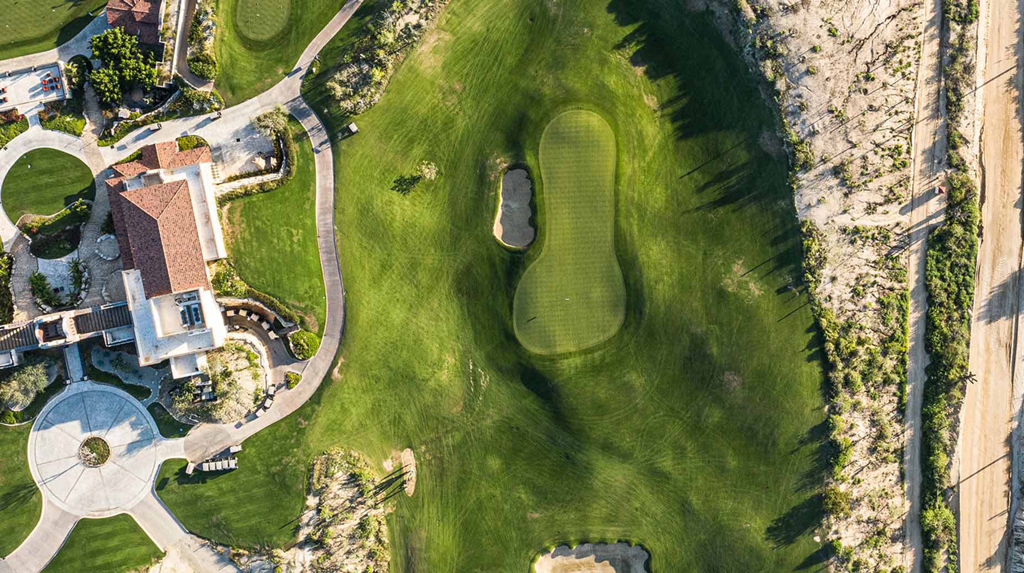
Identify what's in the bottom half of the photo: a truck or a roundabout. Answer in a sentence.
The one visible in the bottom half of the photo is a roundabout.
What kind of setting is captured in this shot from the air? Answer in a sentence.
It's a golf course.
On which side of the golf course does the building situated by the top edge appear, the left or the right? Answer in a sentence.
Looking at the photo, the building situated by the top edge lies to the left of the golf course.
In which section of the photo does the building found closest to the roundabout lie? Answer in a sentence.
Look in the left portion of the view to spot the building found closest to the roundabout.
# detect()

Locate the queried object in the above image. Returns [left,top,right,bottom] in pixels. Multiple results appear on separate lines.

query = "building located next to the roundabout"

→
[104,140,233,379]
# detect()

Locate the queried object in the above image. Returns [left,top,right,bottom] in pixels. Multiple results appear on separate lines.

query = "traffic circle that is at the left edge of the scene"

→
[28,379,187,519]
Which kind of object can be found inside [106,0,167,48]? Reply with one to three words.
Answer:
building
